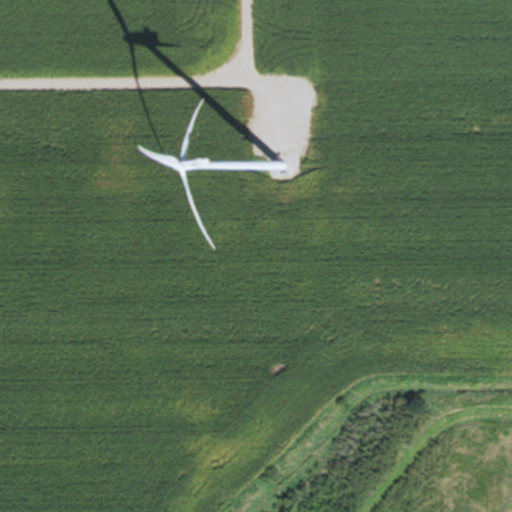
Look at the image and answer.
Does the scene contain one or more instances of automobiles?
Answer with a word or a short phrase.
No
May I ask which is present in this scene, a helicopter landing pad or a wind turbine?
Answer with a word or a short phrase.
wind turbine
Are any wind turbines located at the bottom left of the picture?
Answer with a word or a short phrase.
No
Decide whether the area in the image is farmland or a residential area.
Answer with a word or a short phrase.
farmland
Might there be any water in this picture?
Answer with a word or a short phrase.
No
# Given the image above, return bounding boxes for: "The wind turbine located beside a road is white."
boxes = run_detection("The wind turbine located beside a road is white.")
[138,98,290,248]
